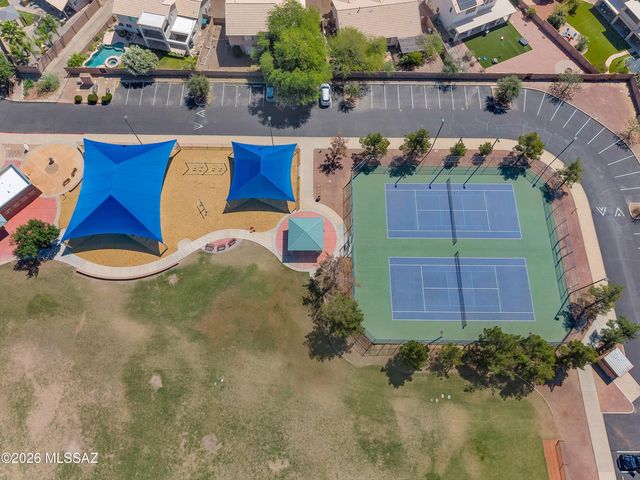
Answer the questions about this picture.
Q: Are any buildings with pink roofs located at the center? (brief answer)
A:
No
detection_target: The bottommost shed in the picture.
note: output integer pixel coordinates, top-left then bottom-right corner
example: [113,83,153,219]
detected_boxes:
[595,348,633,378]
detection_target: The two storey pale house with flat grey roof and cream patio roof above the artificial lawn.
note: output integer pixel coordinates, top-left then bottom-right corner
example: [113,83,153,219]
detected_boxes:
[417,0,518,43]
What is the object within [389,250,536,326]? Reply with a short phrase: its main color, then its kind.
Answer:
blue tennis court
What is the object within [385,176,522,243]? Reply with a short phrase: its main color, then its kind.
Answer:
blue tennis court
